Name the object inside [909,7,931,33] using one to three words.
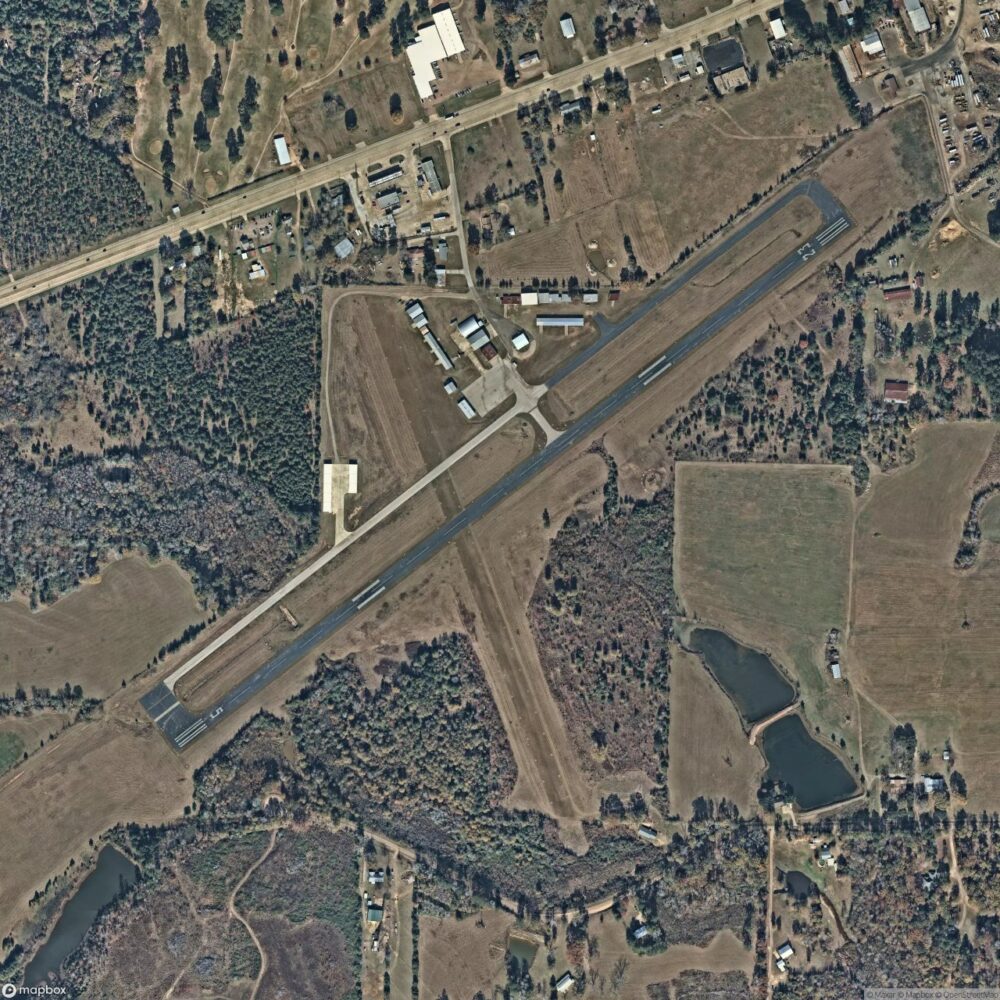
building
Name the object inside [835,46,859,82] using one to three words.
shed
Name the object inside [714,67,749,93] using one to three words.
building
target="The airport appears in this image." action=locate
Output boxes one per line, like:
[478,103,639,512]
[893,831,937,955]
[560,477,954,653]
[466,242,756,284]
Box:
[0,177,859,829]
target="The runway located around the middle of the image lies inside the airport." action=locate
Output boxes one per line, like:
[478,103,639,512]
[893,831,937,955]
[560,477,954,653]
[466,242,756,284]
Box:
[174,220,855,751]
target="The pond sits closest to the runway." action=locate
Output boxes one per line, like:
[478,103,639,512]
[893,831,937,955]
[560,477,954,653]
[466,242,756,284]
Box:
[24,845,139,987]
